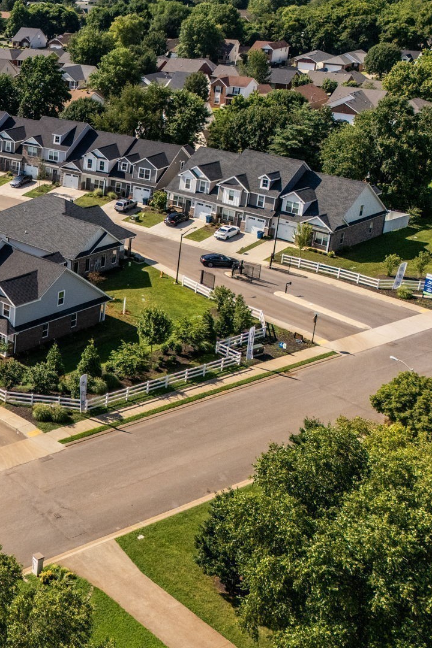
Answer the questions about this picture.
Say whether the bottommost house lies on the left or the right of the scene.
left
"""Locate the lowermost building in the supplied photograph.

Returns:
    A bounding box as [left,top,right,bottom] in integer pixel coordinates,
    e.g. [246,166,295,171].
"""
[0,243,119,358]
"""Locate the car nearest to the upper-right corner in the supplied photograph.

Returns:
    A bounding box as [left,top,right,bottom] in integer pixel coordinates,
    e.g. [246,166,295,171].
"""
[216,223,239,238]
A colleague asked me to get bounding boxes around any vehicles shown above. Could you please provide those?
[216,223,239,238]
[7,174,30,186]
[196,253,238,270]
[113,195,136,211]
[164,210,186,224]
